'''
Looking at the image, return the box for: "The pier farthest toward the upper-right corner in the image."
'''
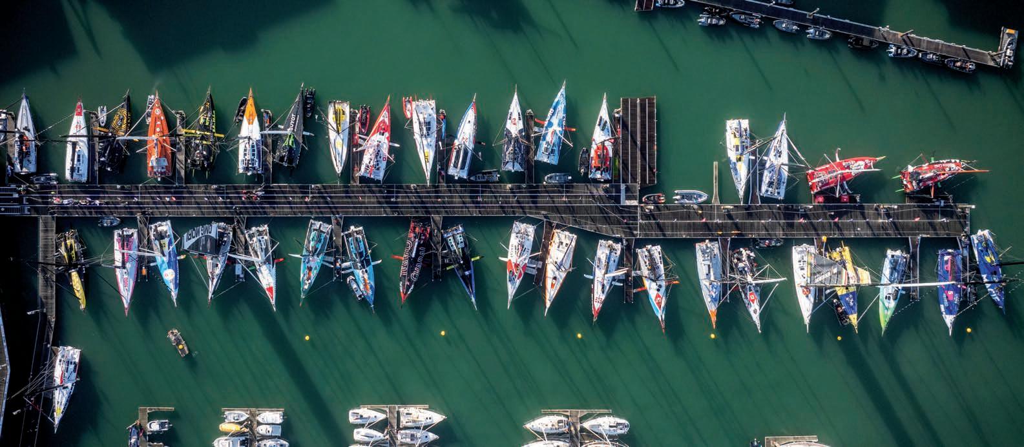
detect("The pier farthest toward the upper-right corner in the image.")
[1000,27,1018,67]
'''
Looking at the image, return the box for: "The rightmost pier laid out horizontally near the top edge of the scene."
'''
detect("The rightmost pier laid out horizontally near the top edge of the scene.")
[696,0,1000,66]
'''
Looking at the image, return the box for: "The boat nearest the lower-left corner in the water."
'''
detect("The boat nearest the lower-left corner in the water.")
[1,346,81,435]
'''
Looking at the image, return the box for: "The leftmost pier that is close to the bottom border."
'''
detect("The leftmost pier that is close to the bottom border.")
[137,408,174,447]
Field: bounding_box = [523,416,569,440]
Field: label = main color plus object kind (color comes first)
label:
white boat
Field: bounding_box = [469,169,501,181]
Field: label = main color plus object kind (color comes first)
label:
black boat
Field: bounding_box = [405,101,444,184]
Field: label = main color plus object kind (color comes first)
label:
white boat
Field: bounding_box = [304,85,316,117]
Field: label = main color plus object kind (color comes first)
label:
black boat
